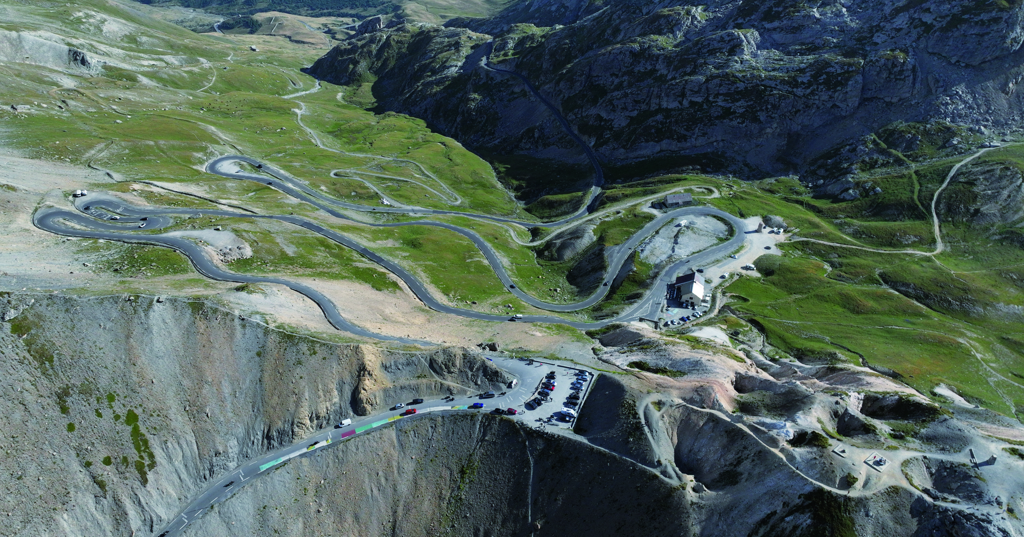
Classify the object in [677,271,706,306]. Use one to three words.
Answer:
building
